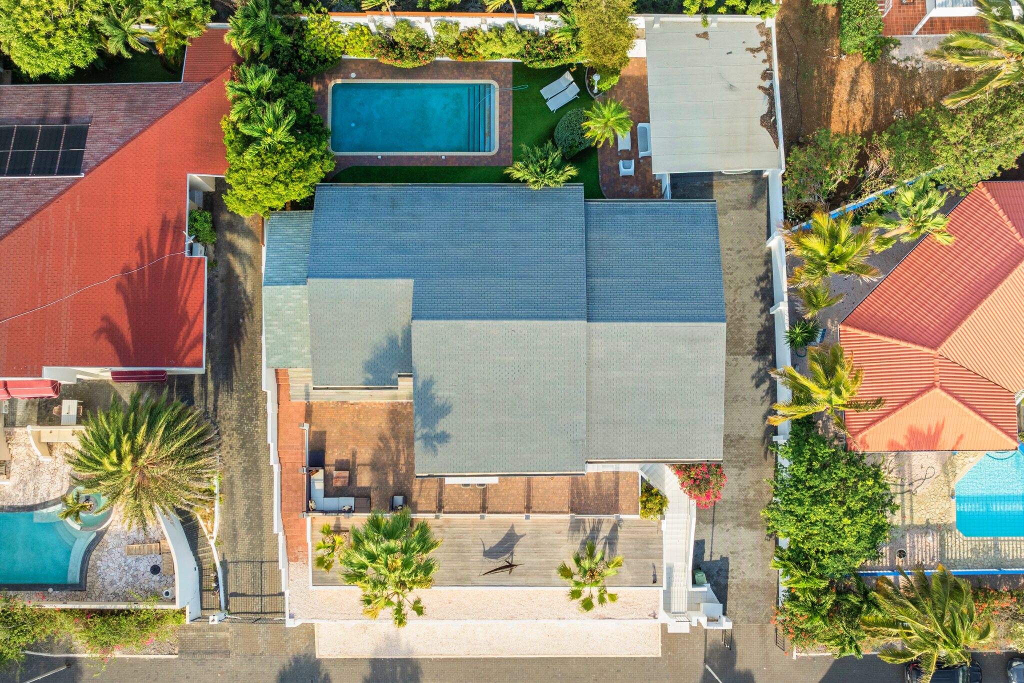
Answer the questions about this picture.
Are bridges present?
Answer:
No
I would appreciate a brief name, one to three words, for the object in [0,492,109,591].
swimming pool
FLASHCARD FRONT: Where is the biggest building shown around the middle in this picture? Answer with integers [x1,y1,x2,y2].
[262,181,726,479]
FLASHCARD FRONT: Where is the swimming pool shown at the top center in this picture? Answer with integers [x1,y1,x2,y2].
[328,78,499,154]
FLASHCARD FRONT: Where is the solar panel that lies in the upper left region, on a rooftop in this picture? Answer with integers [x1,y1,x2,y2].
[0,123,91,176]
